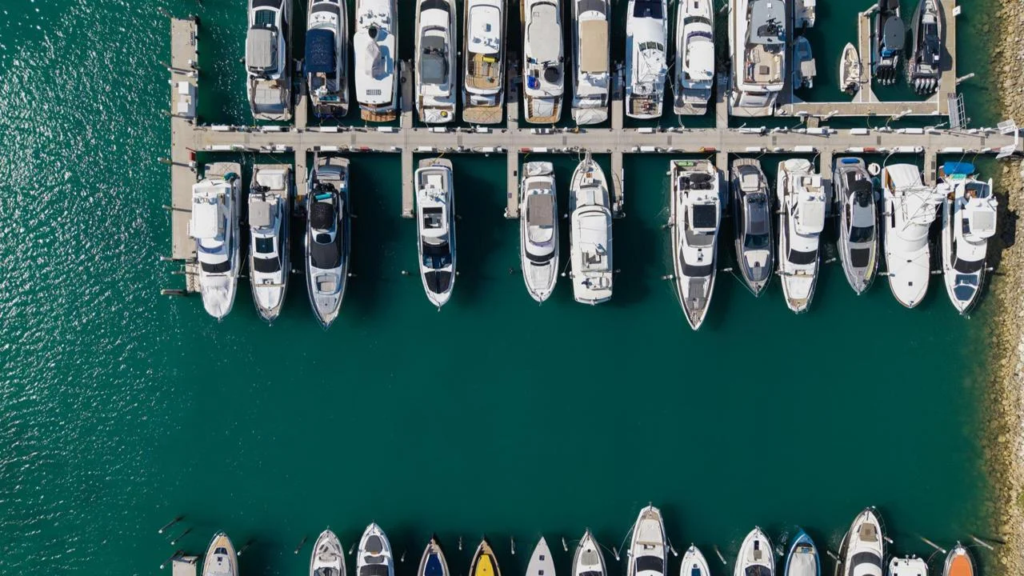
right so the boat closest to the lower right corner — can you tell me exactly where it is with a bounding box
[938,542,976,576]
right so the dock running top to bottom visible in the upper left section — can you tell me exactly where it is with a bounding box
[171,18,199,261]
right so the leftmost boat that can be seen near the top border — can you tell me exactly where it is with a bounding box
[243,0,293,121]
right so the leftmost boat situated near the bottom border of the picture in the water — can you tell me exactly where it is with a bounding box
[200,533,239,576]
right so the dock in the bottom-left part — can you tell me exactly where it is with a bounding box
[167,549,200,576]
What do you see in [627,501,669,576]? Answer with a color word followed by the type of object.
white boat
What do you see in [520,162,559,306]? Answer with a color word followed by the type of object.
white boat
